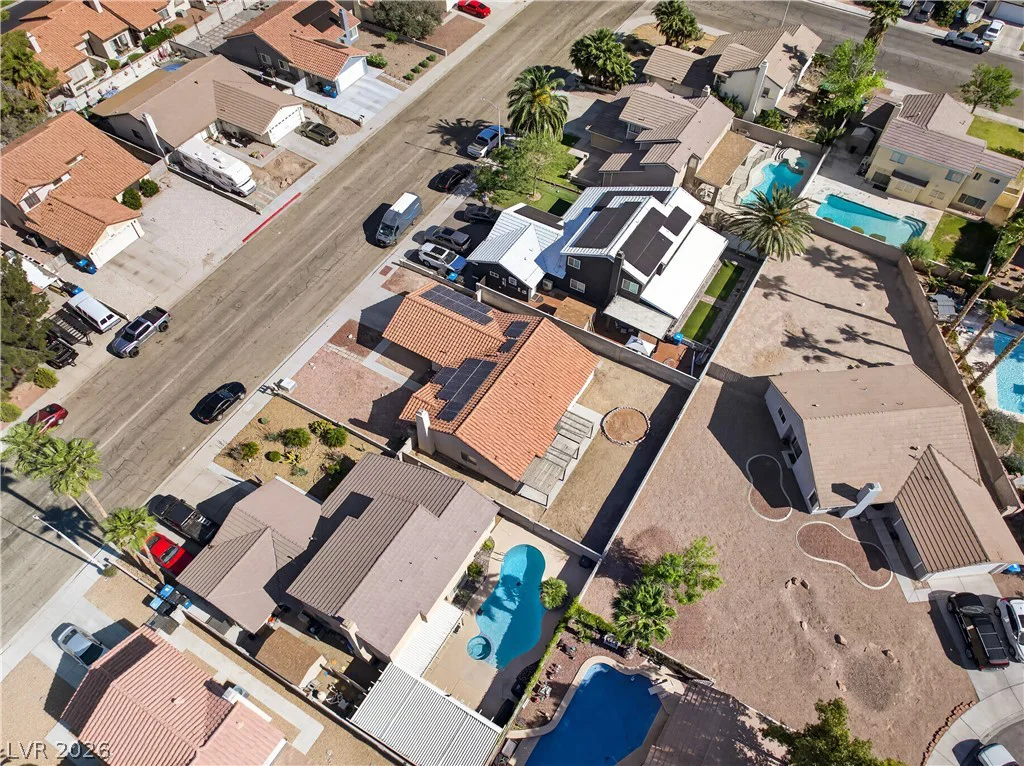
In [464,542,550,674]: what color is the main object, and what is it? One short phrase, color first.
blue swimming pool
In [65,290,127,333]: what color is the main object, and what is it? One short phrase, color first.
white van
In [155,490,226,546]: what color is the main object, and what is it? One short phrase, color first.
black vehicle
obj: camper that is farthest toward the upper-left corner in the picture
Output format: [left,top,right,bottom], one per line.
[175,134,262,198]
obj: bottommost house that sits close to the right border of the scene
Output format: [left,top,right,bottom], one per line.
[765,365,1024,585]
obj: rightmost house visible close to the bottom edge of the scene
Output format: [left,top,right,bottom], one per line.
[649,677,784,766]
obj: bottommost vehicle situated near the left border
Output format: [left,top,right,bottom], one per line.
[47,621,111,675]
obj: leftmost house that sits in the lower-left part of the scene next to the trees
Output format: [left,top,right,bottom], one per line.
[58,622,288,766]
